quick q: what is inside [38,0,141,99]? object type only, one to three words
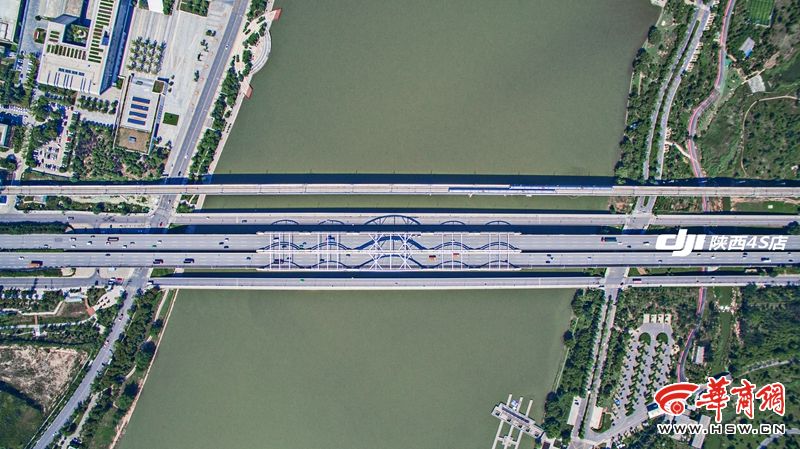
building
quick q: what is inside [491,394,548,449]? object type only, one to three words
pier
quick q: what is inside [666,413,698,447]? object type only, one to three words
building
